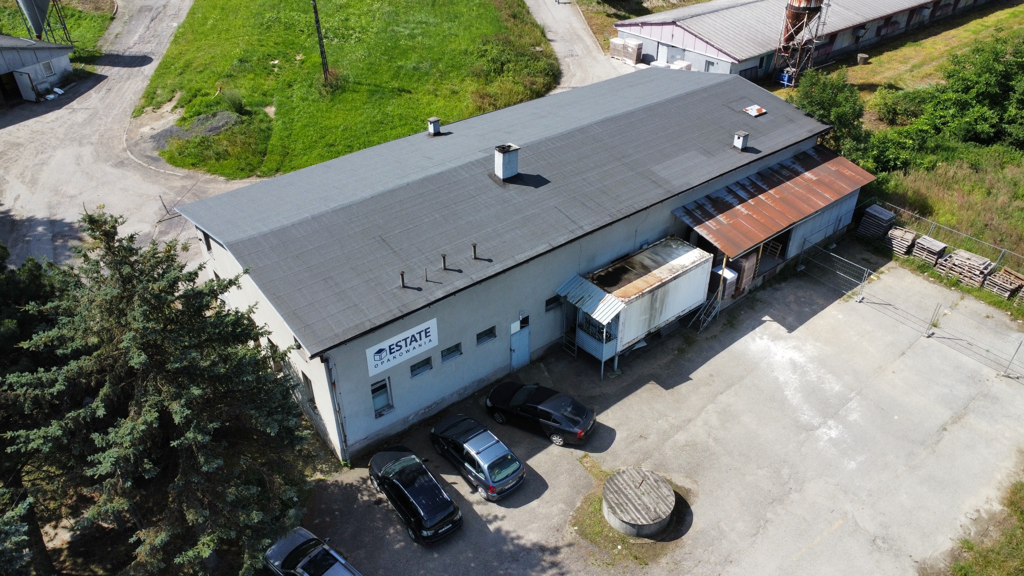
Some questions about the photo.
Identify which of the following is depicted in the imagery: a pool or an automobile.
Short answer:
automobile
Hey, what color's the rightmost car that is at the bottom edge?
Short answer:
black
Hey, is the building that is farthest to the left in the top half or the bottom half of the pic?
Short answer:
top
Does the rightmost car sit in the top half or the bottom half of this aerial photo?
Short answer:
bottom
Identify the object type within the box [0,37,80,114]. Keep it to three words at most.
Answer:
building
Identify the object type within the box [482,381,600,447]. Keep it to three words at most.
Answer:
car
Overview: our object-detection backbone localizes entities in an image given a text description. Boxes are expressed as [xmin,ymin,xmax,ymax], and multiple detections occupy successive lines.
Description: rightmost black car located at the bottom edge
[366,442,472,554]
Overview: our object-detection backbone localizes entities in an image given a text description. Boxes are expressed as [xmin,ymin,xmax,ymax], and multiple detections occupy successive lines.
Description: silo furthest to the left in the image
[15,0,74,50]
